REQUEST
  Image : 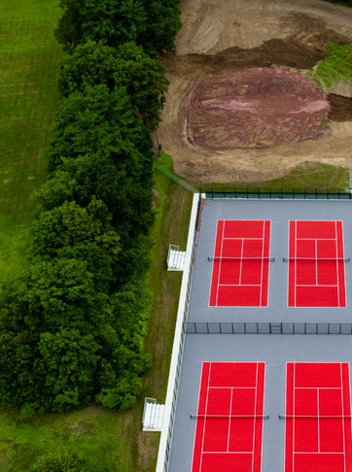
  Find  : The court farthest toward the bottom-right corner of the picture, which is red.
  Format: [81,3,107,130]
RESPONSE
[284,363,352,472]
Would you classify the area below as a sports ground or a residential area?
sports ground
